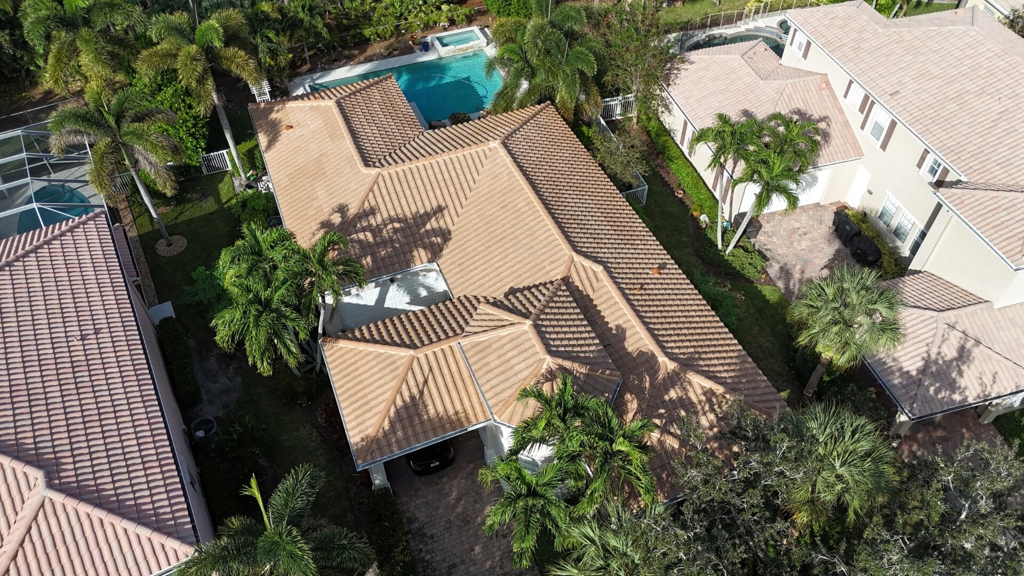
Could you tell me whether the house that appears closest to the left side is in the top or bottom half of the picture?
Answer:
bottom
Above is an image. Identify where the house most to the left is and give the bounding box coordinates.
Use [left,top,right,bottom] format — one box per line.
[0,206,222,576]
